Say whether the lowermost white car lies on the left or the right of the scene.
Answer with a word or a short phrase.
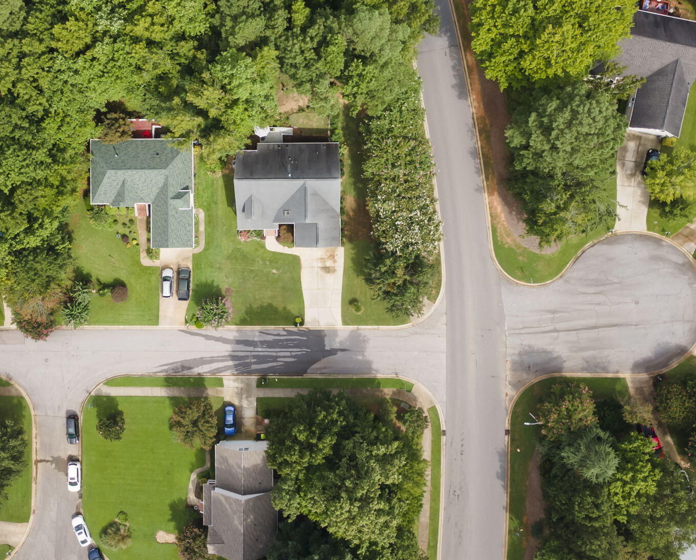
left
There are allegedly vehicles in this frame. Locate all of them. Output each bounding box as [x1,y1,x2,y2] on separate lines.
[66,461,82,492]
[72,514,92,548]
[222,404,236,435]
[87,547,103,560]
[639,149,656,182]
[176,266,191,300]
[160,267,174,299]
[64,414,80,445]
